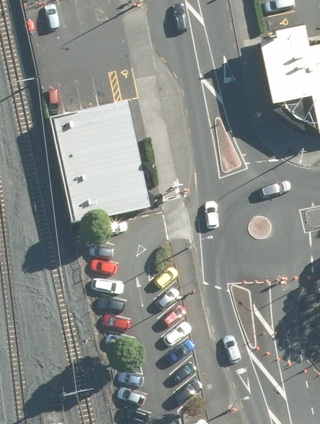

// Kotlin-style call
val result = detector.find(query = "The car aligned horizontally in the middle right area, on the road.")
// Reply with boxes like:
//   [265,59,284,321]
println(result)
[262,179,292,196]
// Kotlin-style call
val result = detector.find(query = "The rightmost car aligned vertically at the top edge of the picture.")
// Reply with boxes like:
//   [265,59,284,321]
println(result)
[172,2,187,32]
